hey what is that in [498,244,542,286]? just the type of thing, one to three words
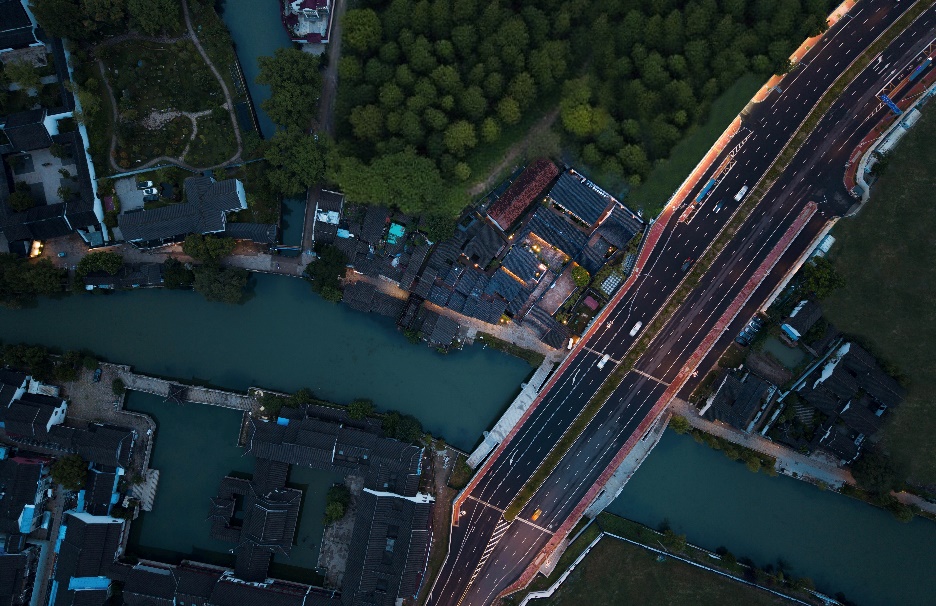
building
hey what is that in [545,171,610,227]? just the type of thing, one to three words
building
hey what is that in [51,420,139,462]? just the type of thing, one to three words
house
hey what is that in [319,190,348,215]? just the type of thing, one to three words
house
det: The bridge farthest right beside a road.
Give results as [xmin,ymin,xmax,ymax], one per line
[463,345,679,541]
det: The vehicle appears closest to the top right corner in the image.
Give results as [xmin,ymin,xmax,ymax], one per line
[734,186,748,201]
